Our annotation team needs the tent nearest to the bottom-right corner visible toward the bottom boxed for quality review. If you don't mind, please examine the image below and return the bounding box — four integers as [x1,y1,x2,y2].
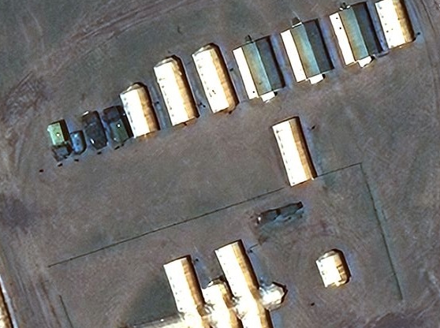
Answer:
[317,249,349,288]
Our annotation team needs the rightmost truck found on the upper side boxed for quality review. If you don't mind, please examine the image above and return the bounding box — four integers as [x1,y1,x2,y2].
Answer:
[103,107,130,145]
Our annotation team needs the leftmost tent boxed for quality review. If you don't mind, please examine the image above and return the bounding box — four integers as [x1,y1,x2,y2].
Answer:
[120,83,157,139]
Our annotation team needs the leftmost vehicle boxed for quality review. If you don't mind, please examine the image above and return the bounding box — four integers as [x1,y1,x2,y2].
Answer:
[45,122,70,161]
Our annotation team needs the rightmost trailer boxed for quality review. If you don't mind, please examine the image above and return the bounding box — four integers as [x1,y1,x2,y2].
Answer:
[255,201,301,229]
